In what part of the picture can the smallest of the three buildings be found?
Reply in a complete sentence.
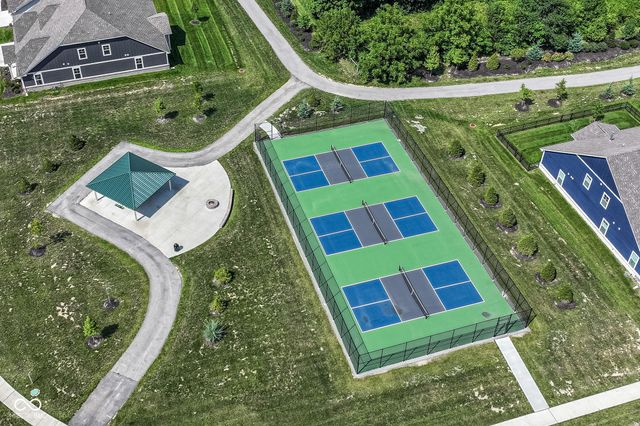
The smallest of the three buildings sits in the left section of the image.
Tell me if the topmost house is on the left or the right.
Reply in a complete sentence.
You can find the topmost house on the left side of the picture.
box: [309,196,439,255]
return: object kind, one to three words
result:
sports court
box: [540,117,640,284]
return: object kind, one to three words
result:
house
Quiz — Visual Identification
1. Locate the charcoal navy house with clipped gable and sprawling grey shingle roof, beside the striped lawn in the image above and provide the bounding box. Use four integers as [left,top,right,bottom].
[2,0,175,90]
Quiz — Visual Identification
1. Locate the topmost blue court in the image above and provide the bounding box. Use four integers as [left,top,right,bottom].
[282,142,401,191]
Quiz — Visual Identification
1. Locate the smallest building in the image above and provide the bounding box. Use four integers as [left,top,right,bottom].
[86,152,176,221]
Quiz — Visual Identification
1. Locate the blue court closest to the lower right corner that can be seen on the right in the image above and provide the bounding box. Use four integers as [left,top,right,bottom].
[342,259,484,332]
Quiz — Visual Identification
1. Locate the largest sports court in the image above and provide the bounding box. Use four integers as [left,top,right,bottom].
[252,117,533,377]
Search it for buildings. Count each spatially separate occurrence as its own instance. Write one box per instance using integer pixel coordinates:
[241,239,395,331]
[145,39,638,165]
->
[86,152,176,221]
[540,117,640,284]
[2,0,175,90]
